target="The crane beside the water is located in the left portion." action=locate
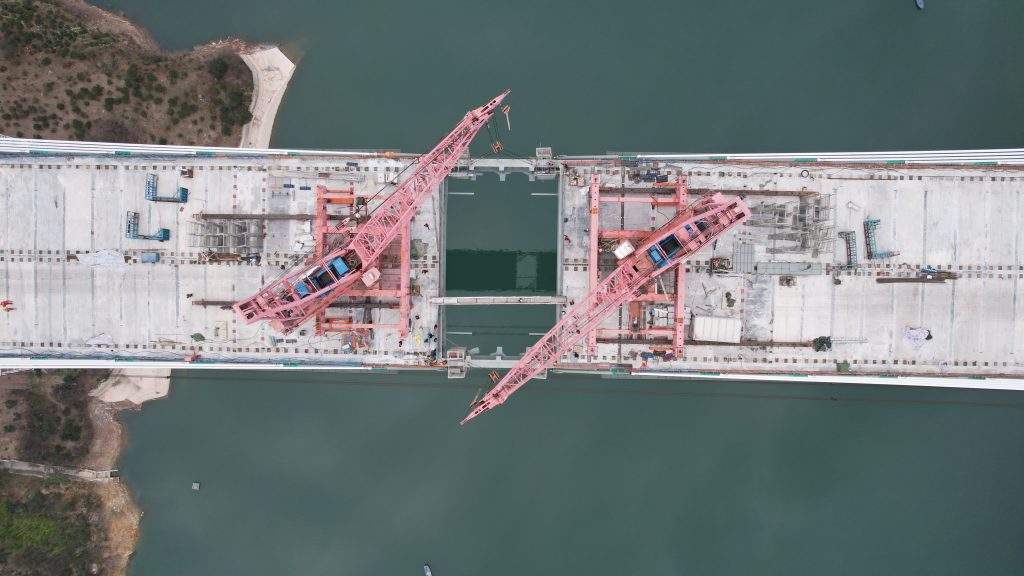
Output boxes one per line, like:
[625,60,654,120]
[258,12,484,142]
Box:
[233,88,515,337]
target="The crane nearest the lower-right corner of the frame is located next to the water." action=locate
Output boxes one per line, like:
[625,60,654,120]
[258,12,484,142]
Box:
[458,174,753,426]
